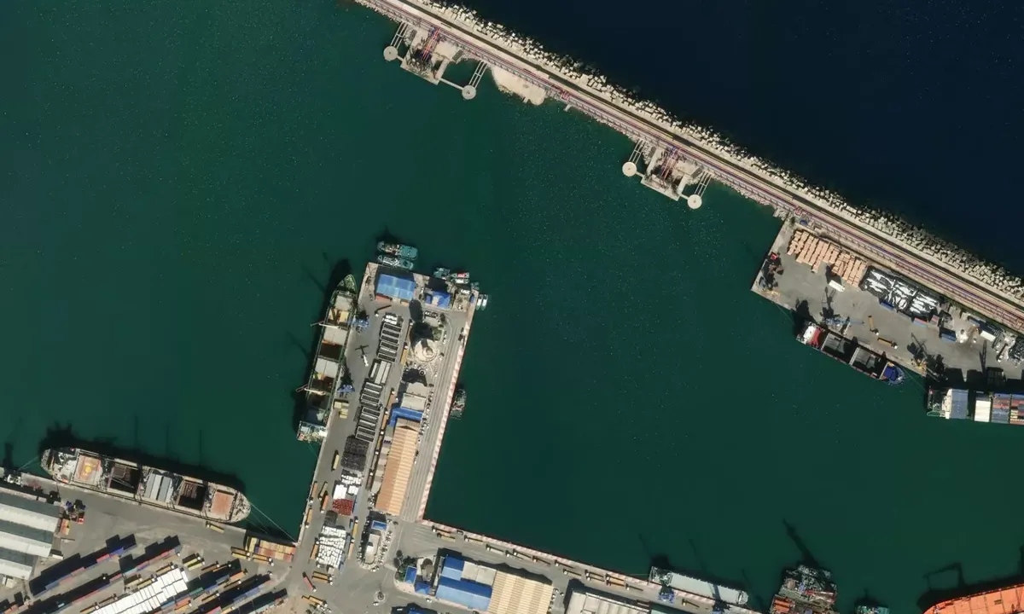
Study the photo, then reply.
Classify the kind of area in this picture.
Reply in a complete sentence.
The area seen from above is a port.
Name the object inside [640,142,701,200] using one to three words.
pier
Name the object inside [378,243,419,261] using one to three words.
boat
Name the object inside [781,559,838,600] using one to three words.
ship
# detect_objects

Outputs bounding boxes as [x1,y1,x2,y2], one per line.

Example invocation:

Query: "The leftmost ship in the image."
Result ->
[38,445,250,523]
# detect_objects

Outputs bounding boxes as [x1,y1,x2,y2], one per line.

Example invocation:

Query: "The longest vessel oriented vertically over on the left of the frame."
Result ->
[296,274,357,445]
